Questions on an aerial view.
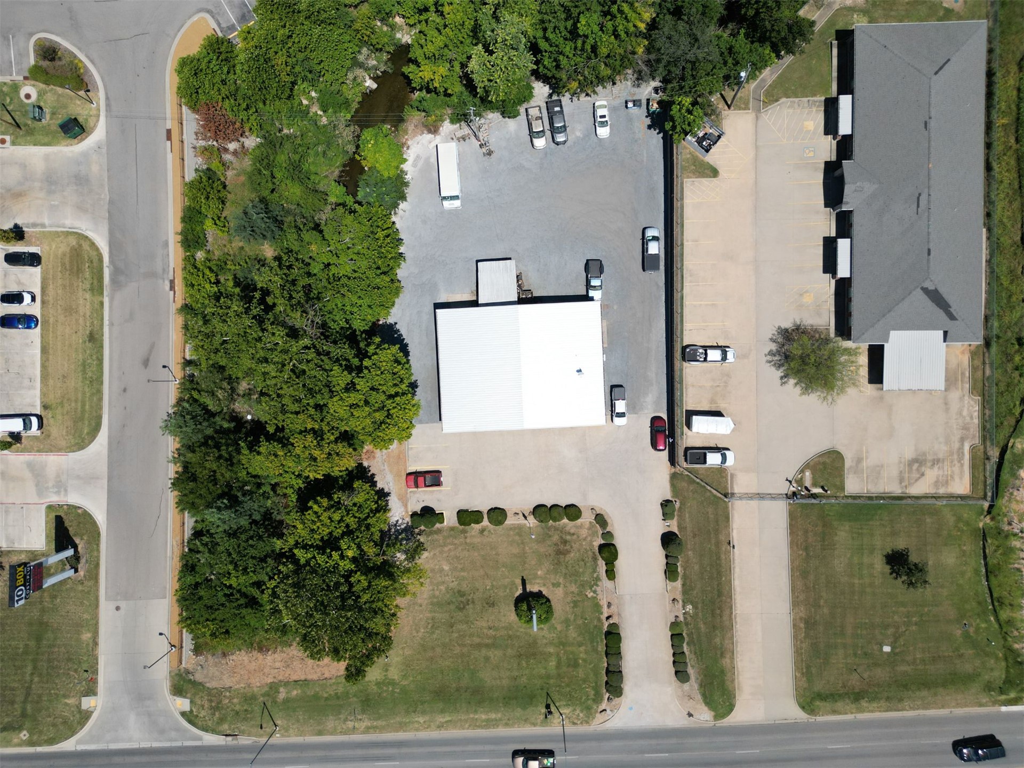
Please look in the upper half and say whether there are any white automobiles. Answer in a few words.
Yes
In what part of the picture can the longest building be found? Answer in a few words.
top right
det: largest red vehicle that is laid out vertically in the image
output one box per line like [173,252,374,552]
[651,416,668,451]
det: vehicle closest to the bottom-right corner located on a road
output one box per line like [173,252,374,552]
[955,735,1004,759]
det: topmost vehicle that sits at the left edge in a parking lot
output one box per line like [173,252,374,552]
[4,251,45,268]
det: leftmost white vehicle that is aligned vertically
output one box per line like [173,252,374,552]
[438,141,463,212]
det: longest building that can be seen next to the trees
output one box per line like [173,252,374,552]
[828,20,988,344]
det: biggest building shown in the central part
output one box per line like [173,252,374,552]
[436,260,607,432]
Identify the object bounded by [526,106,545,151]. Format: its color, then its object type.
white vehicle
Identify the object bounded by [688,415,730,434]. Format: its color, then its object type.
white trailer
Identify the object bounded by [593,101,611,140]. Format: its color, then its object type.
white car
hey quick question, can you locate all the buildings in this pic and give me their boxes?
[828,20,988,344]
[436,260,607,432]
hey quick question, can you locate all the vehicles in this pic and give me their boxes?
[686,448,732,466]
[593,101,611,140]
[610,384,626,426]
[955,735,1004,759]
[2,290,39,307]
[546,99,568,148]
[407,472,444,488]
[0,415,47,432]
[526,106,545,151]
[684,345,733,363]
[651,416,668,451]
[585,259,603,301]
[642,228,660,273]
[512,755,556,768]
[3,314,42,330]
[438,141,463,212]
[4,251,45,268]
